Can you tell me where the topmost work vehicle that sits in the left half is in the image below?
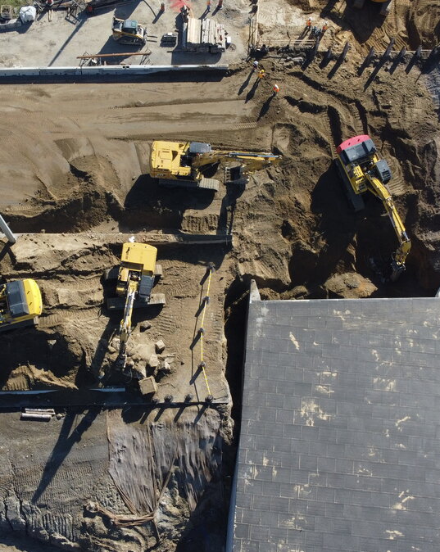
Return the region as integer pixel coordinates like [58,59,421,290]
[108,16,169,52]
